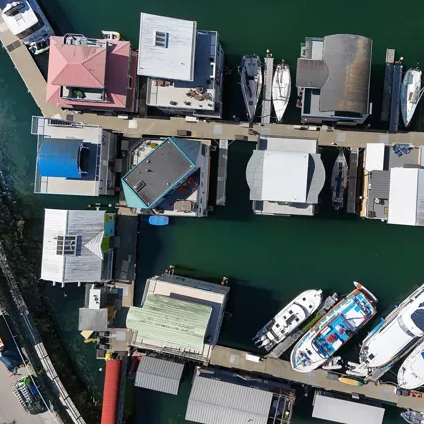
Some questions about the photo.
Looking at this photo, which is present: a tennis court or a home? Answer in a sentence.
The image shows a home.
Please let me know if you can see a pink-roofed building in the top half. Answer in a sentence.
Yes, a pink-roofed building can be seen in the top half.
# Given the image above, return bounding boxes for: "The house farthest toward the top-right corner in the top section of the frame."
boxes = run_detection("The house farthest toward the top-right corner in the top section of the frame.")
[297,34,372,123]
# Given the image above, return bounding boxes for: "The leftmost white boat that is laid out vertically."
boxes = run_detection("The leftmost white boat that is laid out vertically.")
[272,64,291,121]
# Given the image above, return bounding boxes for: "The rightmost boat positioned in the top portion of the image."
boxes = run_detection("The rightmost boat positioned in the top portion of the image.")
[402,68,424,126]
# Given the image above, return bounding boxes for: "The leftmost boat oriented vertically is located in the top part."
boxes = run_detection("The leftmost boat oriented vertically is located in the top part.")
[241,54,263,121]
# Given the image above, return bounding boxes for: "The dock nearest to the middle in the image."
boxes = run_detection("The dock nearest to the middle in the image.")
[216,139,228,206]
